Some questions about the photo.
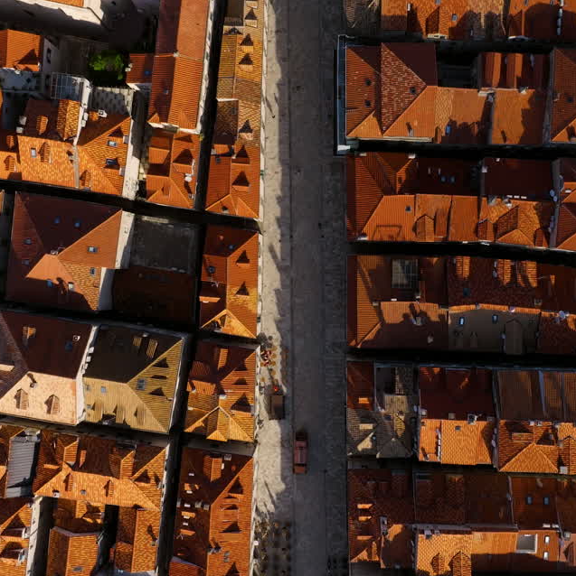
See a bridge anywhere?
No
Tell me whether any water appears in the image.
No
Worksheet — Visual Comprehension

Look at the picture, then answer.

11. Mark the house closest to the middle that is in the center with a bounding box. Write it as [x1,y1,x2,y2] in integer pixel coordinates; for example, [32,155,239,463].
[201,225,265,338]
